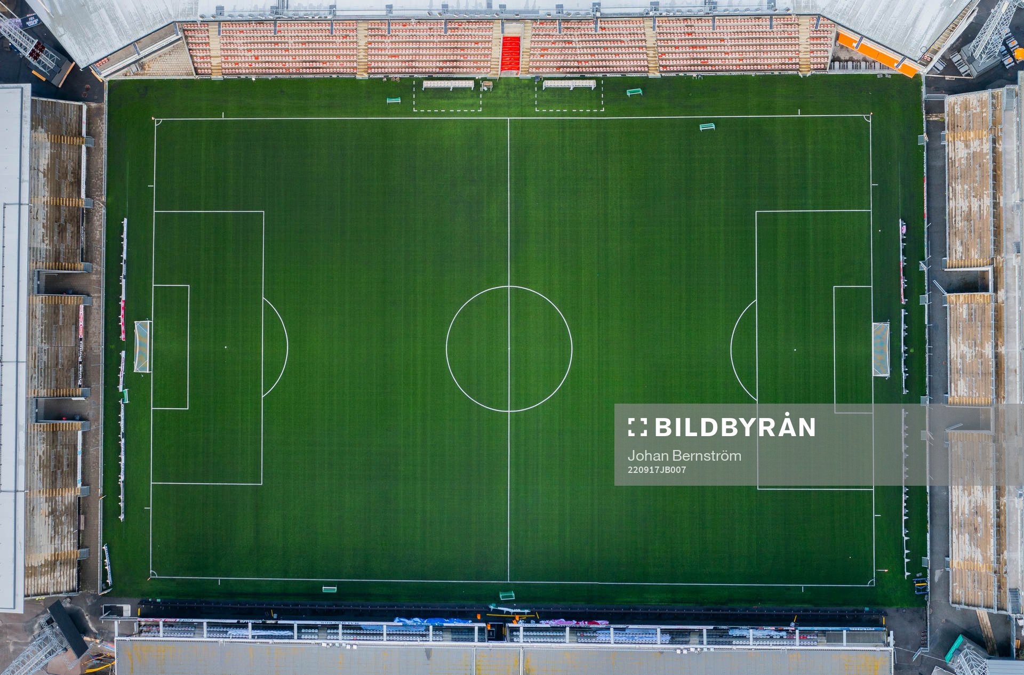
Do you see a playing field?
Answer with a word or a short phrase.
Yes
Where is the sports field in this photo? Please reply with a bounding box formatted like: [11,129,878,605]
[102,73,929,608]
